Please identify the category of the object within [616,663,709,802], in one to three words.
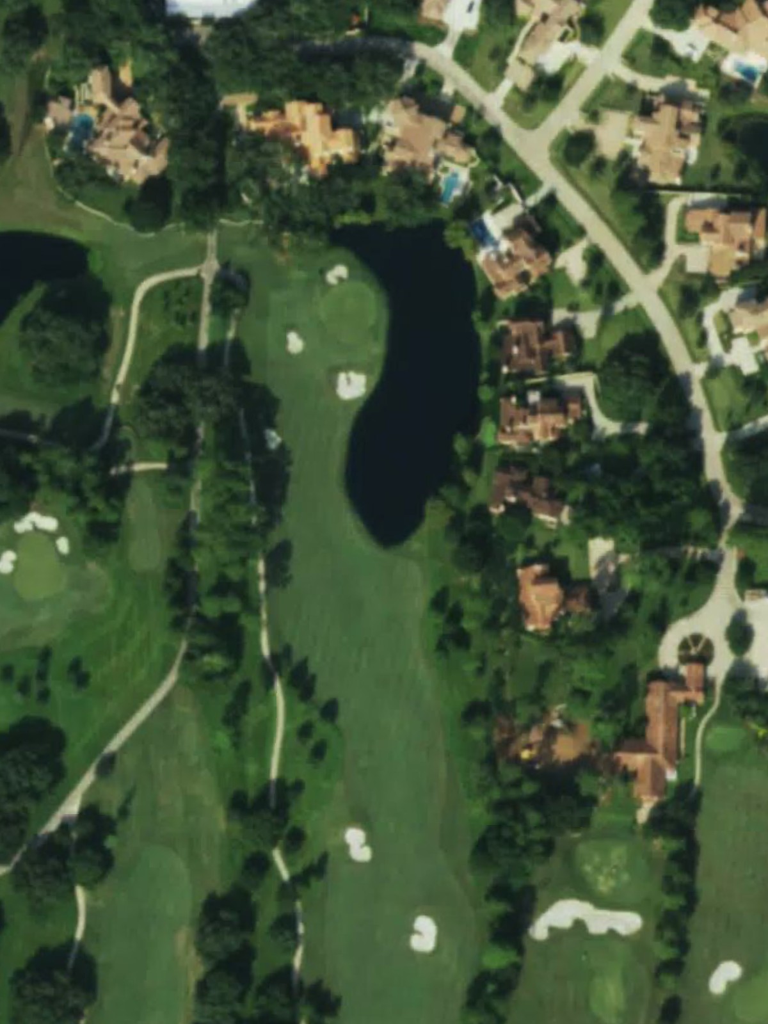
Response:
building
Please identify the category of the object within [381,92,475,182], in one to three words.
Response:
house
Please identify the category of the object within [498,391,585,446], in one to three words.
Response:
house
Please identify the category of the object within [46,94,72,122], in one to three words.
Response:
building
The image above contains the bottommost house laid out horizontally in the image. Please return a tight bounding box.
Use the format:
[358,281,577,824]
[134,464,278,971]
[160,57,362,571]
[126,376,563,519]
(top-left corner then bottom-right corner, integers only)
[491,714,592,766]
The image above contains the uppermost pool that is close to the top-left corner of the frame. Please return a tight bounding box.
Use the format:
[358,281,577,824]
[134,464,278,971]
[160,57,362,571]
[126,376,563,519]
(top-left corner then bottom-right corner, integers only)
[63,105,97,155]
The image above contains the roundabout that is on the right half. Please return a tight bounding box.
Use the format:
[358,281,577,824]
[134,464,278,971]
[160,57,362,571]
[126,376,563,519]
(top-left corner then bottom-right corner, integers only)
[677,632,714,666]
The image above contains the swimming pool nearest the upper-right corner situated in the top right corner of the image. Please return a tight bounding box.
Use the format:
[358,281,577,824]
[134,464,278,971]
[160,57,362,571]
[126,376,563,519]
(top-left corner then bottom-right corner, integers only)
[722,55,767,85]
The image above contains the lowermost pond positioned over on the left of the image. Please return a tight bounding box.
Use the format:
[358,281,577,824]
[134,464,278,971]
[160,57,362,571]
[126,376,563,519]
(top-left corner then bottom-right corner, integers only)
[0,232,89,322]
